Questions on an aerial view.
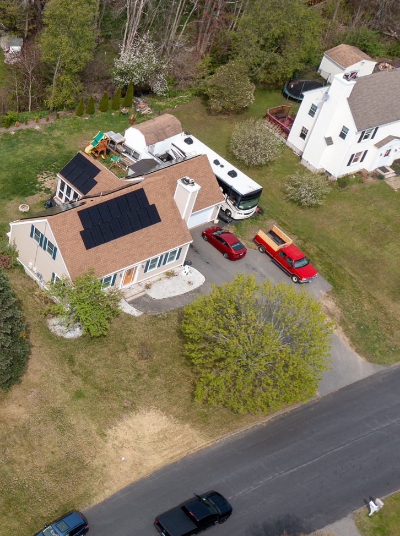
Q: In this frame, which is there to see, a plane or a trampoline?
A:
trampoline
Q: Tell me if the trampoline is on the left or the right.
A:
right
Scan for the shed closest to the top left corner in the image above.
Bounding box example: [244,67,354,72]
[0,36,24,55]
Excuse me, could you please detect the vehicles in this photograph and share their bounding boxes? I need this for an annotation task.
[201,225,248,260]
[155,491,239,536]
[171,138,268,222]
[33,507,93,536]
[256,230,320,284]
